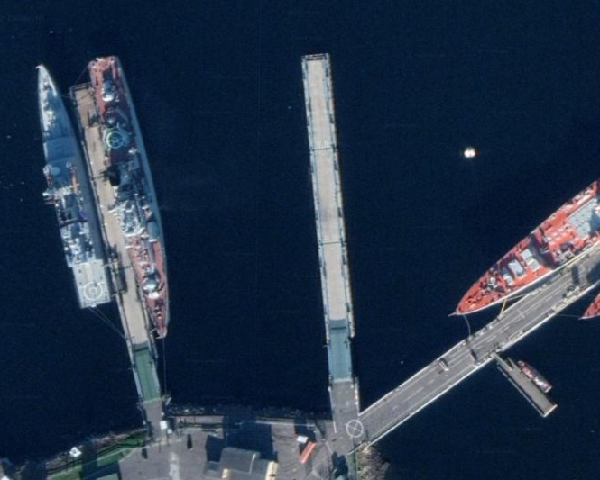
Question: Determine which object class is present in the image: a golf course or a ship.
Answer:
ship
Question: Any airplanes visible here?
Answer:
No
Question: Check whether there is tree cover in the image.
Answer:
No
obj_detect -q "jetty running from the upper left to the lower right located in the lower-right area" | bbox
[494,355,559,419]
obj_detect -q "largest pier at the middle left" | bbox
[72,82,168,443]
